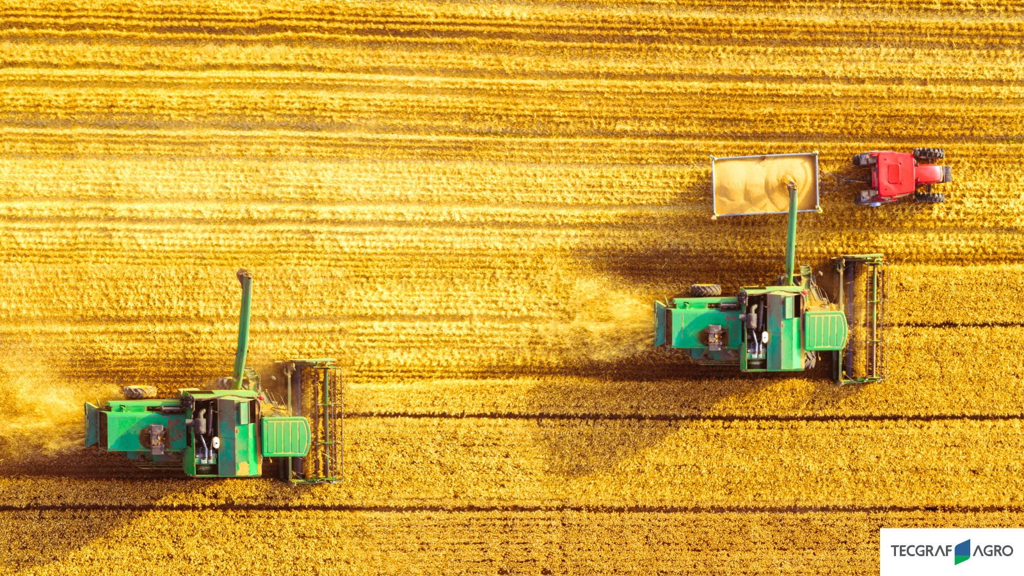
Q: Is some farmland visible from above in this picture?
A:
Yes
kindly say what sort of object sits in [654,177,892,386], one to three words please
work vehicle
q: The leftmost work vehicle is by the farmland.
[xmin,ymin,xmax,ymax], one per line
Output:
[83,268,346,487]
